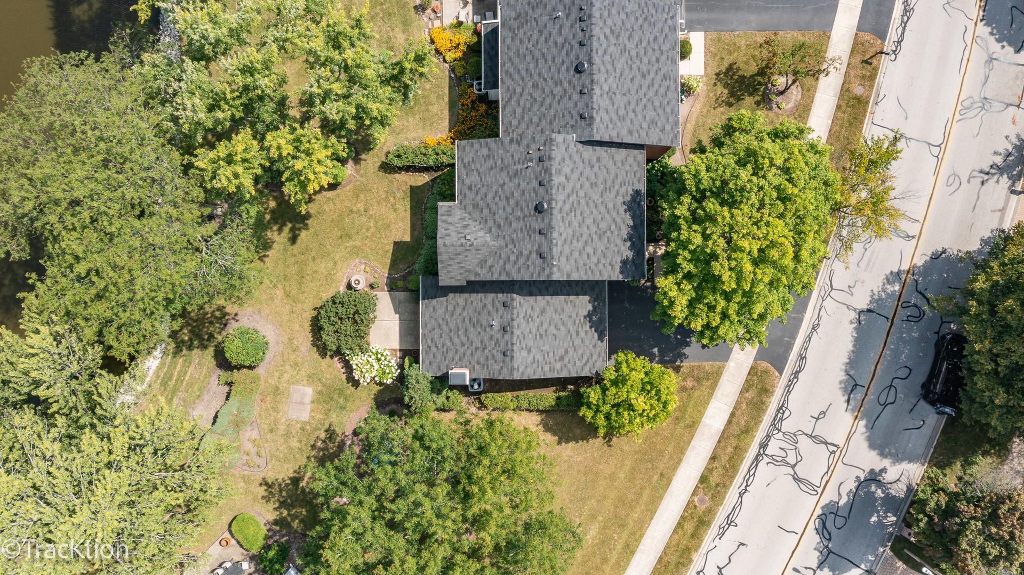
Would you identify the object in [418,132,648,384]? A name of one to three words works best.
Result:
house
